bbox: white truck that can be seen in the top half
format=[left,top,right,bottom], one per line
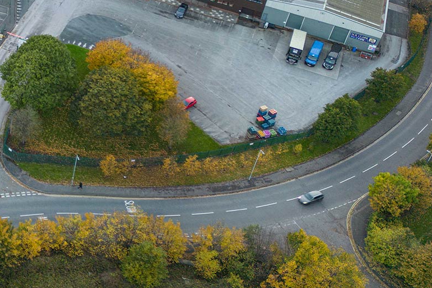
[285,31,307,62]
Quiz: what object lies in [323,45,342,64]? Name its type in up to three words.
vehicle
